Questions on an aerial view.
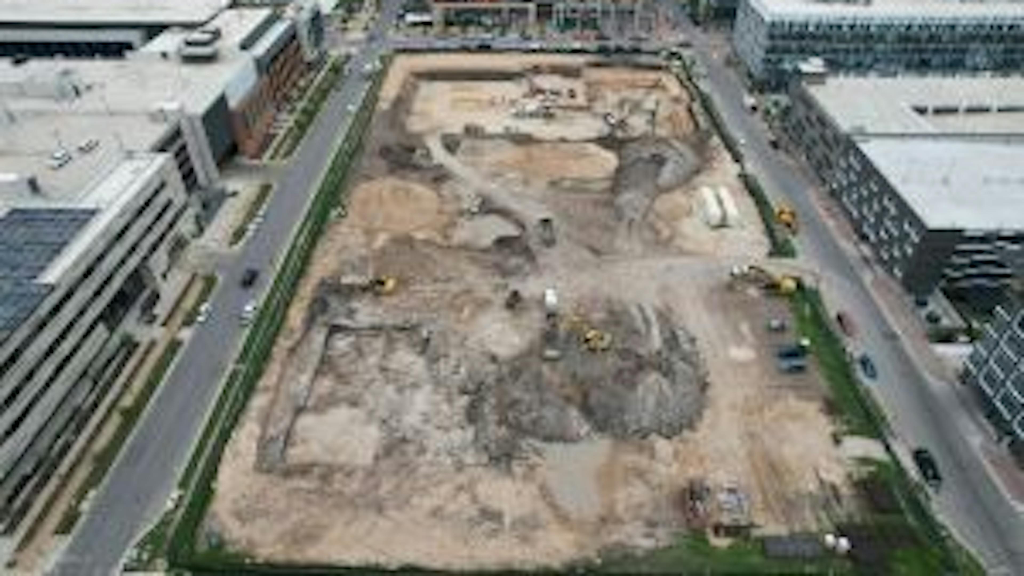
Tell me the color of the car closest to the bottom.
black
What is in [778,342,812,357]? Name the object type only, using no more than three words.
car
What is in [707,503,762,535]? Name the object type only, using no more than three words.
shed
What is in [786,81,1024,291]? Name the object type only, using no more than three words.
building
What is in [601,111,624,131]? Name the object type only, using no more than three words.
vehicle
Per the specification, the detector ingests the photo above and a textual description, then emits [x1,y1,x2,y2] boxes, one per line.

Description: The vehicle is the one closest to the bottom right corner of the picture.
[917,447,947,481]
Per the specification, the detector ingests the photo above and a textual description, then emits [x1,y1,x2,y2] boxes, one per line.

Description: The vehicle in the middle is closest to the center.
[501,289,523,313]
